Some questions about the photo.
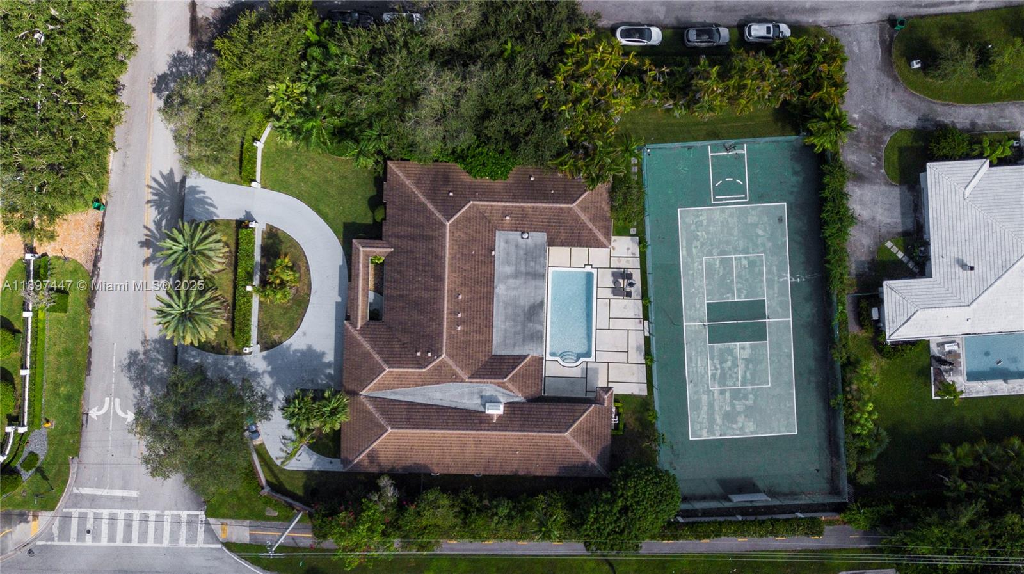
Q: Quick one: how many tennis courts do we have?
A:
1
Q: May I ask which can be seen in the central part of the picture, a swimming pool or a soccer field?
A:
swimming pool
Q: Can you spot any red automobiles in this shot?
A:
No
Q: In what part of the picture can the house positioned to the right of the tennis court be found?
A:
right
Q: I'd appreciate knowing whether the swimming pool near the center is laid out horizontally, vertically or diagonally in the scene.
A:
vertically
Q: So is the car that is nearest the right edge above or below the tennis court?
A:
above it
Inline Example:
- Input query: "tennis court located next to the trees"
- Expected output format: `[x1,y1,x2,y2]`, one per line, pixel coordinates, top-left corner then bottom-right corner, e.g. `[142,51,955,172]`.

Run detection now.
[645,142,832,501]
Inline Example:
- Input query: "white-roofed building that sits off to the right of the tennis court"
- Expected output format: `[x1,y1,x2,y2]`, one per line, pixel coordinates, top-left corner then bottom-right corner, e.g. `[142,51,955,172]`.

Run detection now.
[876,159,1024,341]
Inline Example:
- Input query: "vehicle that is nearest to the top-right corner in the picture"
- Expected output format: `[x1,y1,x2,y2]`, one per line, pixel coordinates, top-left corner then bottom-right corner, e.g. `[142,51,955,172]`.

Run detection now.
[744,20,792,46]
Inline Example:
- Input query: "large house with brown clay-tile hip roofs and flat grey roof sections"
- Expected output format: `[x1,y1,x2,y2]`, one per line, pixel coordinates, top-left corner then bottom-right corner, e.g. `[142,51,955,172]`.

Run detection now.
[340,160,614,478]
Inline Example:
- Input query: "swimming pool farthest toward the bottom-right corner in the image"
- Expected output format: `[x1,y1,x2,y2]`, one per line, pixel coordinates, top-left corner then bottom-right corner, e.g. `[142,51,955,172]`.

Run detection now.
[963,334,1024,385]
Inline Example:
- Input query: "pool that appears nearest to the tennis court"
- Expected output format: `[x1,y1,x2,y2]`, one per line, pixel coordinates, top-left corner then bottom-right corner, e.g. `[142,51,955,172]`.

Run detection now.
[546,265,597,367]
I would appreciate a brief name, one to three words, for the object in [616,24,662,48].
car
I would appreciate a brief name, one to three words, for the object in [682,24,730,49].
car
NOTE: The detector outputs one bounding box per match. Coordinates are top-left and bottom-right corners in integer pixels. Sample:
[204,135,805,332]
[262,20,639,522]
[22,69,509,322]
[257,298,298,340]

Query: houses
[340,160,614,478]
[876,159,1024,341]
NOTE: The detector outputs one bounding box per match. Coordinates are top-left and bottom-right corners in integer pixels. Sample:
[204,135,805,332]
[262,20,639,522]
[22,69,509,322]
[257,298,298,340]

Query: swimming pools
[963,334,1024,385]
[546,265,597,367]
